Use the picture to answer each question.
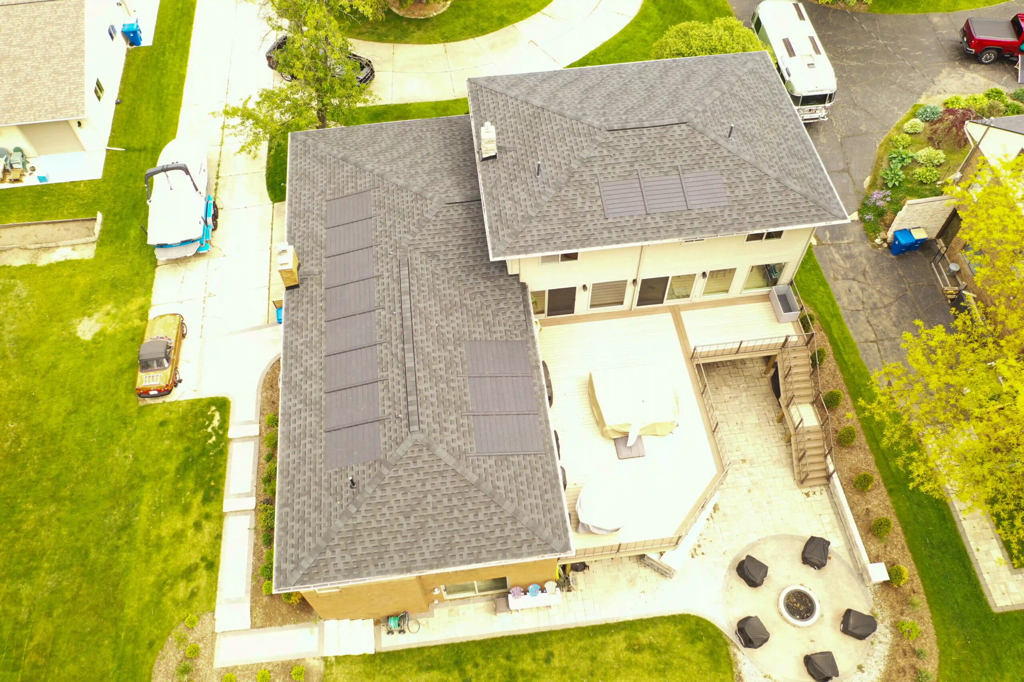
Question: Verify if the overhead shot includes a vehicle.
Yes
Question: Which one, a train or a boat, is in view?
boat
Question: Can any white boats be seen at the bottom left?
No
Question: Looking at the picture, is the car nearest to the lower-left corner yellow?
Yes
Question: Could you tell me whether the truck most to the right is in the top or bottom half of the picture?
top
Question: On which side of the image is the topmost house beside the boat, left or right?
left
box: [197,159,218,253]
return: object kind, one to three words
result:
trailer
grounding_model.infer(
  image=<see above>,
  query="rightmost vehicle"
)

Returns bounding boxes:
[961,17,1024,69]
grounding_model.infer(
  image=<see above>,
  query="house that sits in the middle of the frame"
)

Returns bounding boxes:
[264,49,852,617]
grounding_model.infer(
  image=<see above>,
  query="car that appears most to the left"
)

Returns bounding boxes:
[135,311,194,396]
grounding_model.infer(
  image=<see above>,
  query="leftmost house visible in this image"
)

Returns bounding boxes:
[0,0,141,158]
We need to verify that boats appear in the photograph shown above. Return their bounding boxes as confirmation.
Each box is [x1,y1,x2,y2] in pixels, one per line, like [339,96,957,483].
[143,137,209,261]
